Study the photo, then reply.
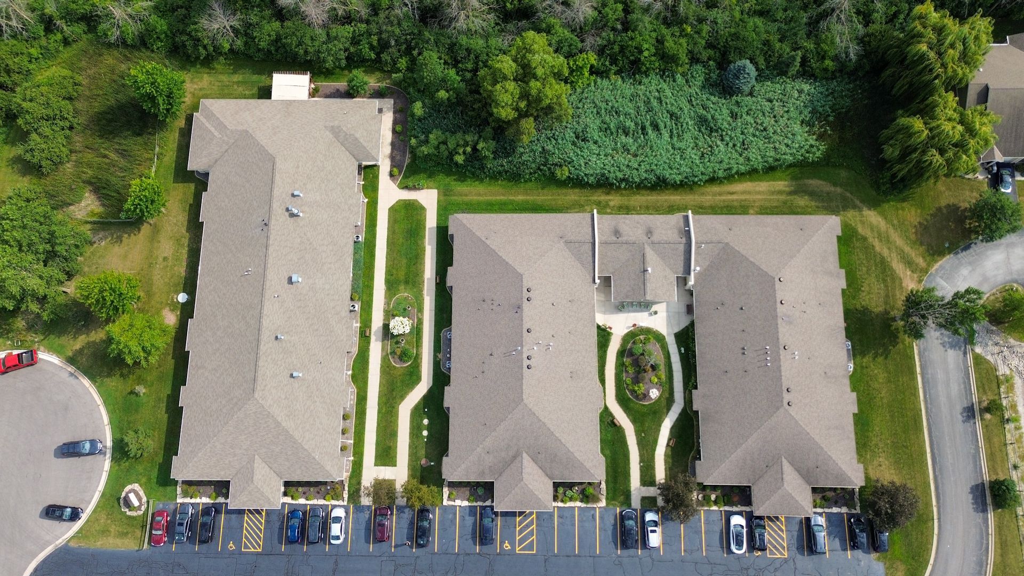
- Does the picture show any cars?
Yes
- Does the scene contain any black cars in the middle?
No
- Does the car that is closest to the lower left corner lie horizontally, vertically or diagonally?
horizontally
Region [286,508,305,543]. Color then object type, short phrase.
blue car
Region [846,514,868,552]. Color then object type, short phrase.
black car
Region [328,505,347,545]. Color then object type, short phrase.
white car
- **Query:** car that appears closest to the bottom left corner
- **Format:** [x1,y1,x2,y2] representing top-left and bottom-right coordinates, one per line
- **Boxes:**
[44,503,86,523]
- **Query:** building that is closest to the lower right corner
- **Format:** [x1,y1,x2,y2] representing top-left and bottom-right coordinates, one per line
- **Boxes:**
[691,215,865,517]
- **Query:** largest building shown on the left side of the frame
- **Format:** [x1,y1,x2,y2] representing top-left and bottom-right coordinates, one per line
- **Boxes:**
[171,99,382,509]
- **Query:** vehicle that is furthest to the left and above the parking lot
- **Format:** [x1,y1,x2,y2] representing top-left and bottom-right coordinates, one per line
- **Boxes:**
[0,349,42,374]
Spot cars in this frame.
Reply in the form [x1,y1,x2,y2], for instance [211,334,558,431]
[197,505,218,544]
[728,513,748,554]
[643,509,662,549]
[306,506,326,544]
[846,514,868,552]
[286,508,305,543]
[373,505,392,543]
[994,164,1016,195]
[415,511,433,548]
[869,515,891,556]
[807,513,827,554]
[479,505,497,545]
[44,503,86,523]
[174,503,195,544]
[749,515,769,552]
[60,439,104,457]
[620,508,639,549]
[148,509,171,547]
[328,505,347,545]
